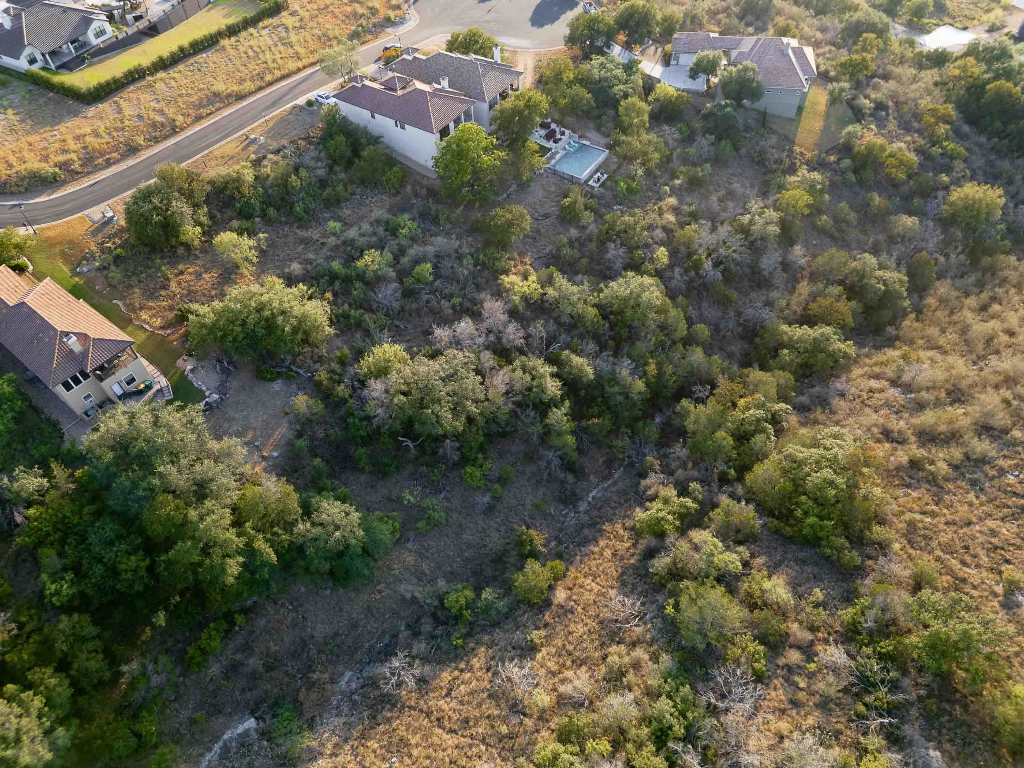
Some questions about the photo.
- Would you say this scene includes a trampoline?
No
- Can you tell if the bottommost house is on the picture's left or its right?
left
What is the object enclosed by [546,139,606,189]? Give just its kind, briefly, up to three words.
swimming pool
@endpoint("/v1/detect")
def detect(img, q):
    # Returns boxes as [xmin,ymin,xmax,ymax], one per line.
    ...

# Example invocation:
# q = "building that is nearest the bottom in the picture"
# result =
[0,261,146,422]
